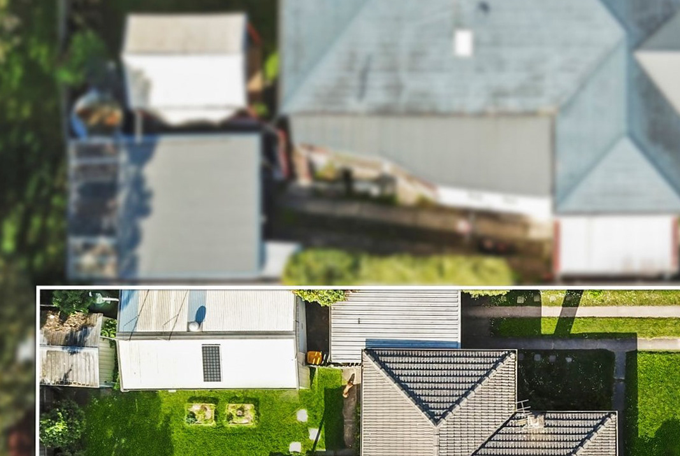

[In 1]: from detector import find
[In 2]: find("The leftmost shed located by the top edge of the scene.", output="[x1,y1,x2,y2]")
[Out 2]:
[121,14,256,127]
